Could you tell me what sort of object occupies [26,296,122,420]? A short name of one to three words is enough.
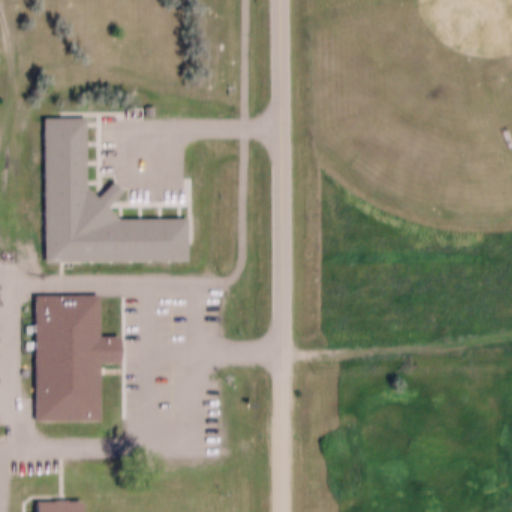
building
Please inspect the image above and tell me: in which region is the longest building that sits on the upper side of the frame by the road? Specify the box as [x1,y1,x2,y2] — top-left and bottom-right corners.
[46,118,188,262]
